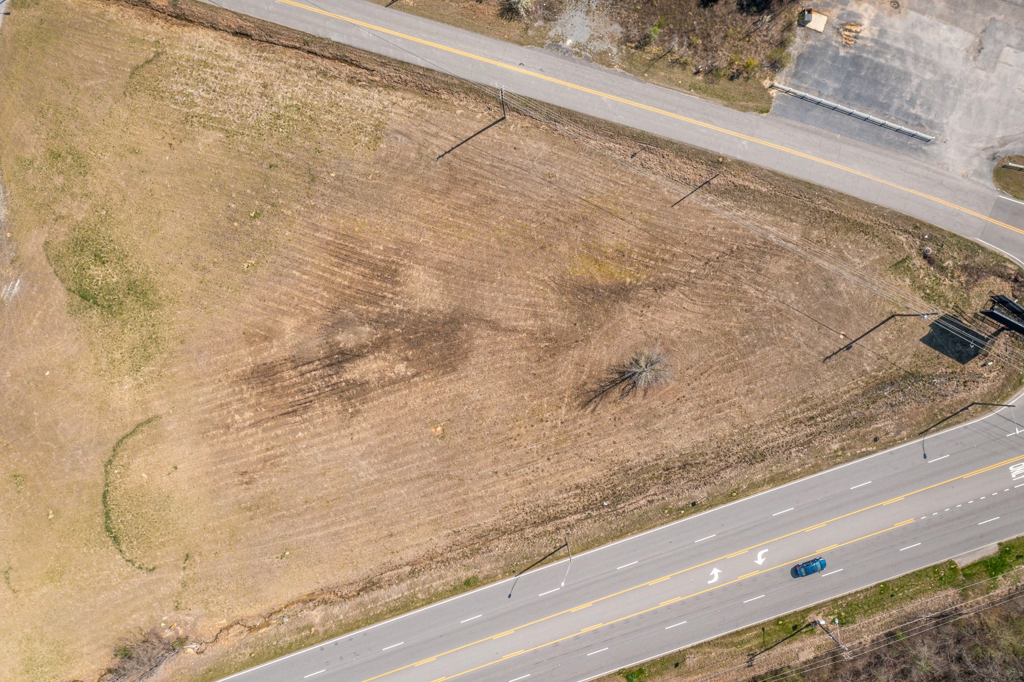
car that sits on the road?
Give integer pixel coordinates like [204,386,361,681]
[796,557,828,577]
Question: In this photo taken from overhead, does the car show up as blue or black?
blue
